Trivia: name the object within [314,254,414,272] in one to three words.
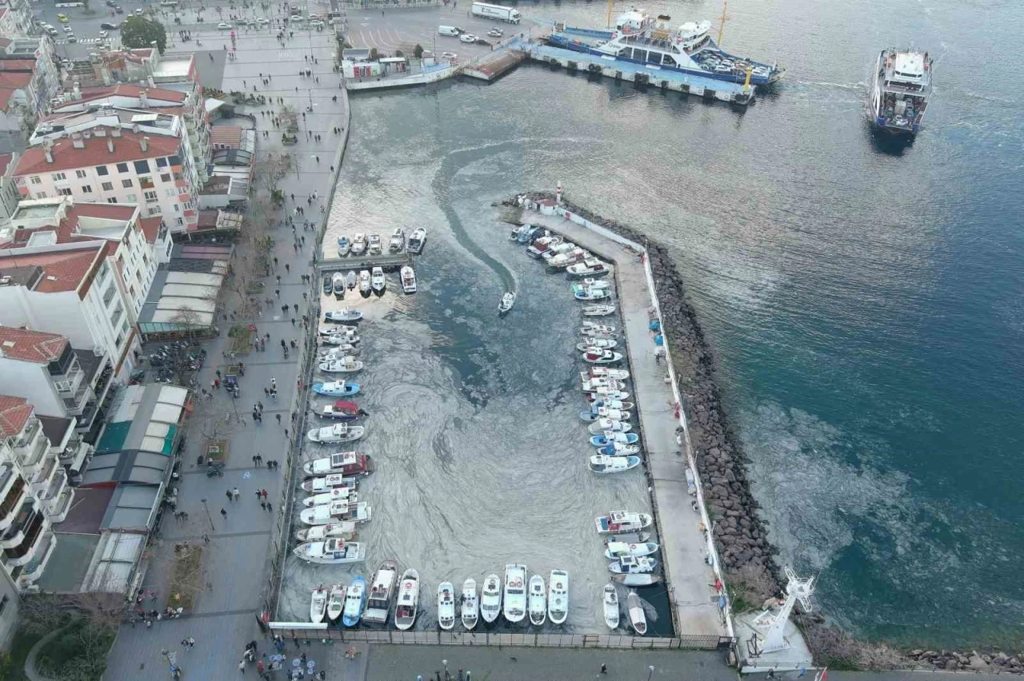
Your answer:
pier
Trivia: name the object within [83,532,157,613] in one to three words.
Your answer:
building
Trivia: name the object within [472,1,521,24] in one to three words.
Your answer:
truck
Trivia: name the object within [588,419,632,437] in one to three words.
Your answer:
boat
